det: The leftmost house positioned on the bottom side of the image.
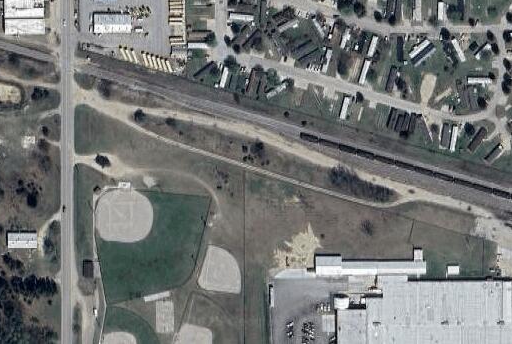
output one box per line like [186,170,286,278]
[7,232,37,248]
